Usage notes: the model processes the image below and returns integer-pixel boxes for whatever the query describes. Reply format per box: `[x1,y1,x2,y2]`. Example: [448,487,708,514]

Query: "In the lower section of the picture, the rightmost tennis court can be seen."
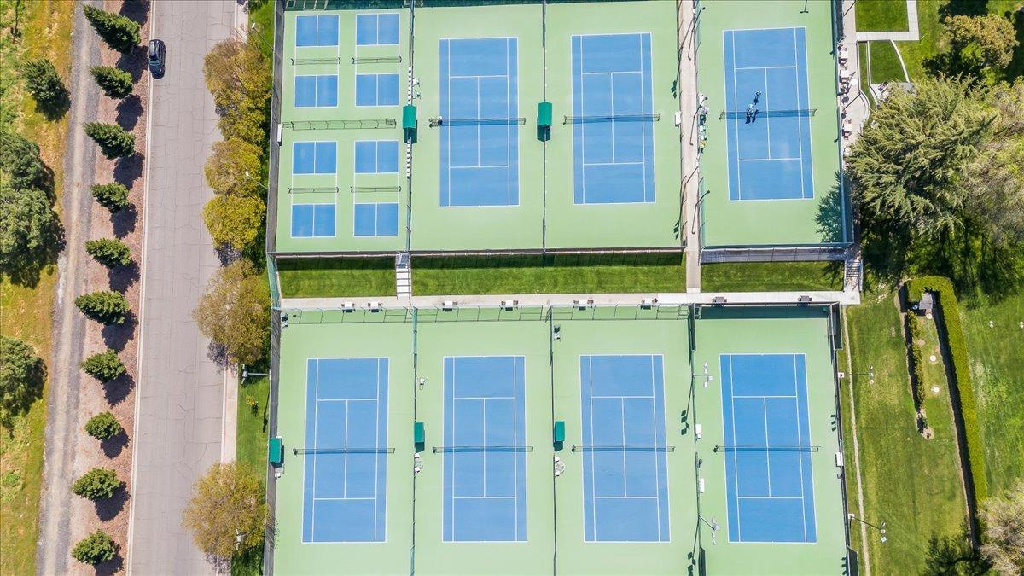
[691,304,847,576]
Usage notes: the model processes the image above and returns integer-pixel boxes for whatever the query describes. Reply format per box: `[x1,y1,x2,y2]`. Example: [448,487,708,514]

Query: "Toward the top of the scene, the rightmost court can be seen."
[691,0,847,250]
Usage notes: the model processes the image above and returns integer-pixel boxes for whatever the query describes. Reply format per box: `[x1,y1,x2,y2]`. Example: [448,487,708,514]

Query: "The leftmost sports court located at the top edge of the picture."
[280,0,348,125]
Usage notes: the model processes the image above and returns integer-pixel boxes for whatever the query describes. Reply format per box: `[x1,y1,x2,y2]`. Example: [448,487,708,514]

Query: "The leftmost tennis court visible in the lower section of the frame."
[273,309,415,576]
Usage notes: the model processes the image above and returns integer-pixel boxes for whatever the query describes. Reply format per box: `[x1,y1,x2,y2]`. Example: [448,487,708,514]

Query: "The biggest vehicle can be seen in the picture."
[146,41,165,76]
